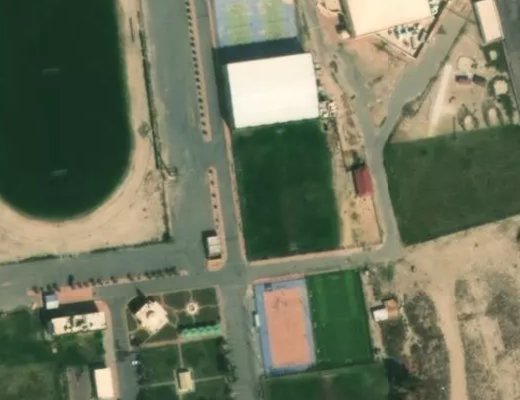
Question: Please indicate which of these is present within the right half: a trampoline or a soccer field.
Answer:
soccer field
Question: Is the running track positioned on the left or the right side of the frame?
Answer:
left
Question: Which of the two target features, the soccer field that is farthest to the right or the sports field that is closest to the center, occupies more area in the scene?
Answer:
the sports field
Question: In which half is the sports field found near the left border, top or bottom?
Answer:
top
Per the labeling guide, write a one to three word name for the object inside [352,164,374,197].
shed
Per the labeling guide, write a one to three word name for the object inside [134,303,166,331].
building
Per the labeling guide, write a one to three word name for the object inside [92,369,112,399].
building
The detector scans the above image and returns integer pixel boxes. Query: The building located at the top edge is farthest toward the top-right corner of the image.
[473,0,503,42]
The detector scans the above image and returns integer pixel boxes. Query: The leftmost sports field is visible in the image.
[0,0,131,221]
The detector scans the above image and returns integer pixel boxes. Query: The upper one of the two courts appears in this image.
[215,0,298,46]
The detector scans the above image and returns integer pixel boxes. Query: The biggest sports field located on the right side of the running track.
[232,116,341,258]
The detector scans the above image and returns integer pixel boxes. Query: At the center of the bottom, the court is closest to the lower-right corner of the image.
[256,278,316,376]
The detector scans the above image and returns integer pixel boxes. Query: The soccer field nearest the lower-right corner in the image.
[306,269,372,370]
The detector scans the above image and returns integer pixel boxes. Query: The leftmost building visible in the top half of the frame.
[223,52,320,128]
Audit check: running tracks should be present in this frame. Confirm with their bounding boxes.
[0,0,152,243]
